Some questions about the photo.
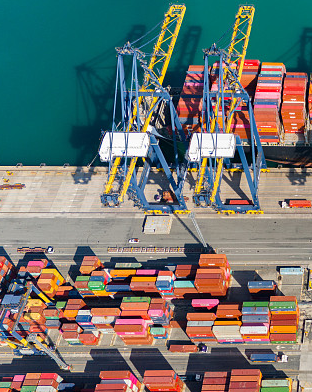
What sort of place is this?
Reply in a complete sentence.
What you see here is a port.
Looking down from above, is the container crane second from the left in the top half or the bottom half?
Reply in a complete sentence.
The top half of the photo is where the container crane second from the left is.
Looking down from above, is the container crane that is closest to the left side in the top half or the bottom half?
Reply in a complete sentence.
The container crane that is closest to the left side is in the bottom half of the image.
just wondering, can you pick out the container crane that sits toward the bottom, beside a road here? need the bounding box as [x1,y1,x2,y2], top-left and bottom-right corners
[0,278,54,350]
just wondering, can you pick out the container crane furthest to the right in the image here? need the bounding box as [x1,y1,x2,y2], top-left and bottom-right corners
[188,3,270,218]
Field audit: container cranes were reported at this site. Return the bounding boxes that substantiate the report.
[0,278,54,350]
[98,2,197,217]
[188,3,270,218]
